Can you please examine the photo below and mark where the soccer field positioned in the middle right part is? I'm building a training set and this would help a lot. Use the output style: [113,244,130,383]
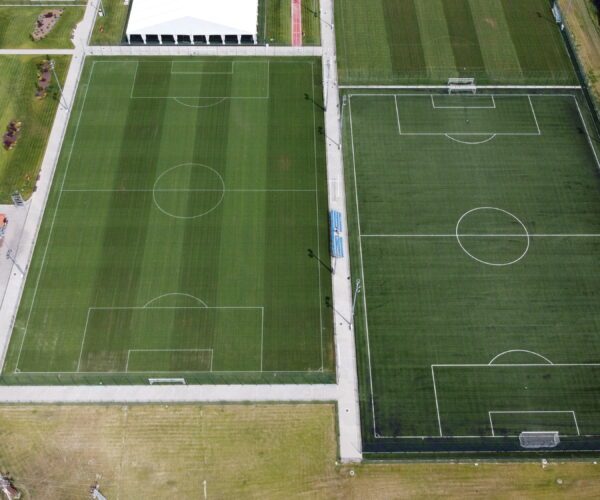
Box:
[338,87,600,452]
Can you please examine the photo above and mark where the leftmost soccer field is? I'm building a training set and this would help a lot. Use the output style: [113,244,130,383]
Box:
[0,55,336,386]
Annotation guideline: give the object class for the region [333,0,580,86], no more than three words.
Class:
soccer field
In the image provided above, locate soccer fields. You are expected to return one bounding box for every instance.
[338,87,600,452]
[0,55,336,386]
[333,0,580,86]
